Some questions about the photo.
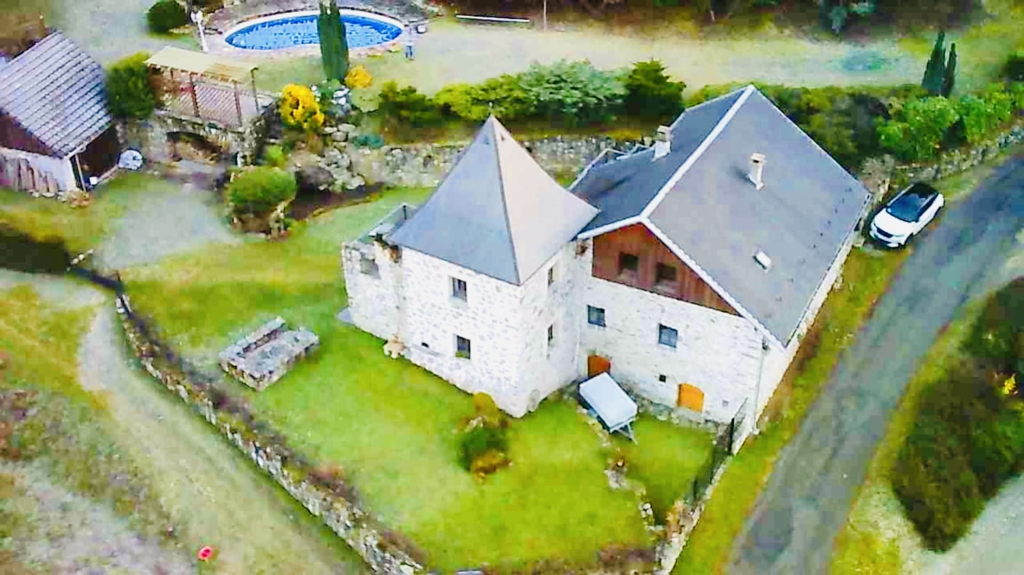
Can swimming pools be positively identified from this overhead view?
Yes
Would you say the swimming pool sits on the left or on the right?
left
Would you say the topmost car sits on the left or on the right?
right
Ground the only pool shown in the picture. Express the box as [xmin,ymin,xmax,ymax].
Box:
[219,6,410,54]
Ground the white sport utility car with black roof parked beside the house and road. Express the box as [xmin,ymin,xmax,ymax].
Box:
[867,180,946,248]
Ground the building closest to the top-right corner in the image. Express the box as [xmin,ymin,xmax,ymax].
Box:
[569,85,874,433]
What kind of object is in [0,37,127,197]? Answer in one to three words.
barn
